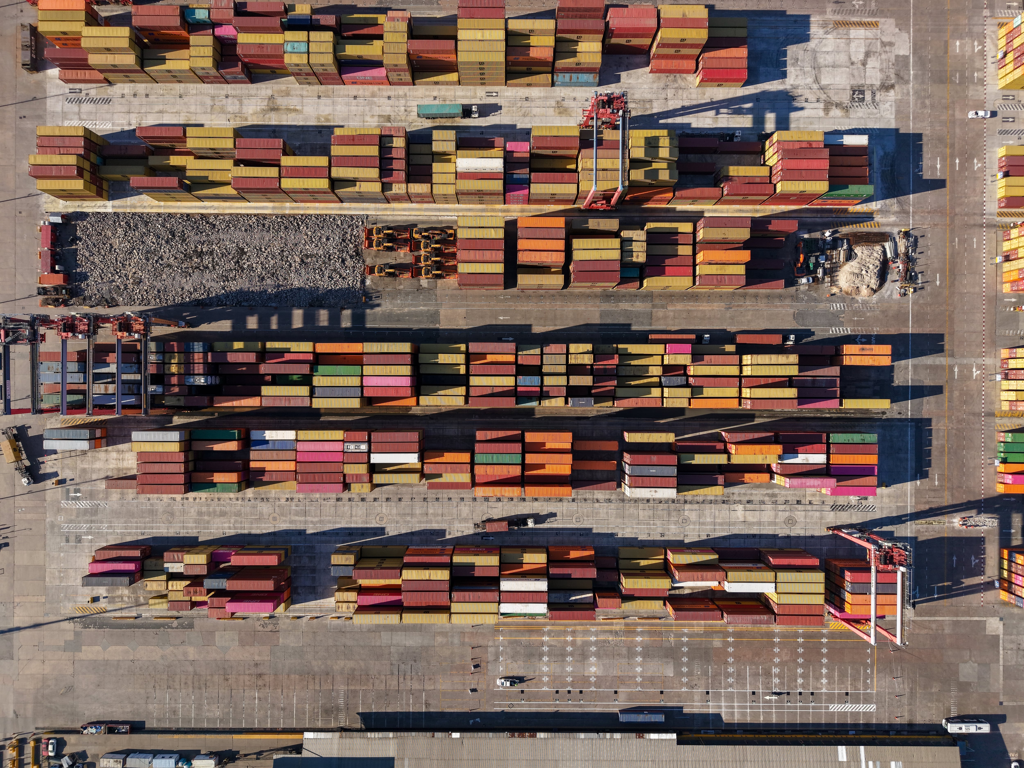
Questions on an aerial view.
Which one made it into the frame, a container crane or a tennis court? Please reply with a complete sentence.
It is a container crane that can be seen here.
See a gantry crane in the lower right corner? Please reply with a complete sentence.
Yes, looking in the lower right corner, one can make out a gantry crane.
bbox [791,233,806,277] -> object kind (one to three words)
work vehicle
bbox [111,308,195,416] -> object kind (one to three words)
container crane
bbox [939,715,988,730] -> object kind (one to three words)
vehicle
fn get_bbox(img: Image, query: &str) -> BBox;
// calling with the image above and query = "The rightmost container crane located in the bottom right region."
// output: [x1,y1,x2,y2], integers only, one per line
[823,530,911,649]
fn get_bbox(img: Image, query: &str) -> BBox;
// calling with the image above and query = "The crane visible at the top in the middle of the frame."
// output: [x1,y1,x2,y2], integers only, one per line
[577,84,635,214]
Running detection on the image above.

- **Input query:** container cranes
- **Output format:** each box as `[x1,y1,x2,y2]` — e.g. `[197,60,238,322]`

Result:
[577,84,635,214]
[0,308,89,415]
[111,308,195,416]
[823,530,911,649]
[56,308,143,416]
